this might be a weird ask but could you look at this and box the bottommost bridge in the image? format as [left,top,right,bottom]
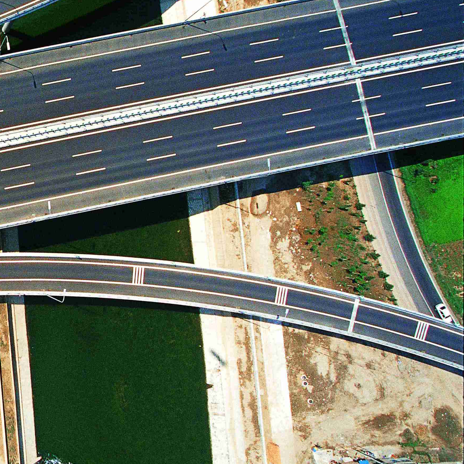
[0,253,464,370]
